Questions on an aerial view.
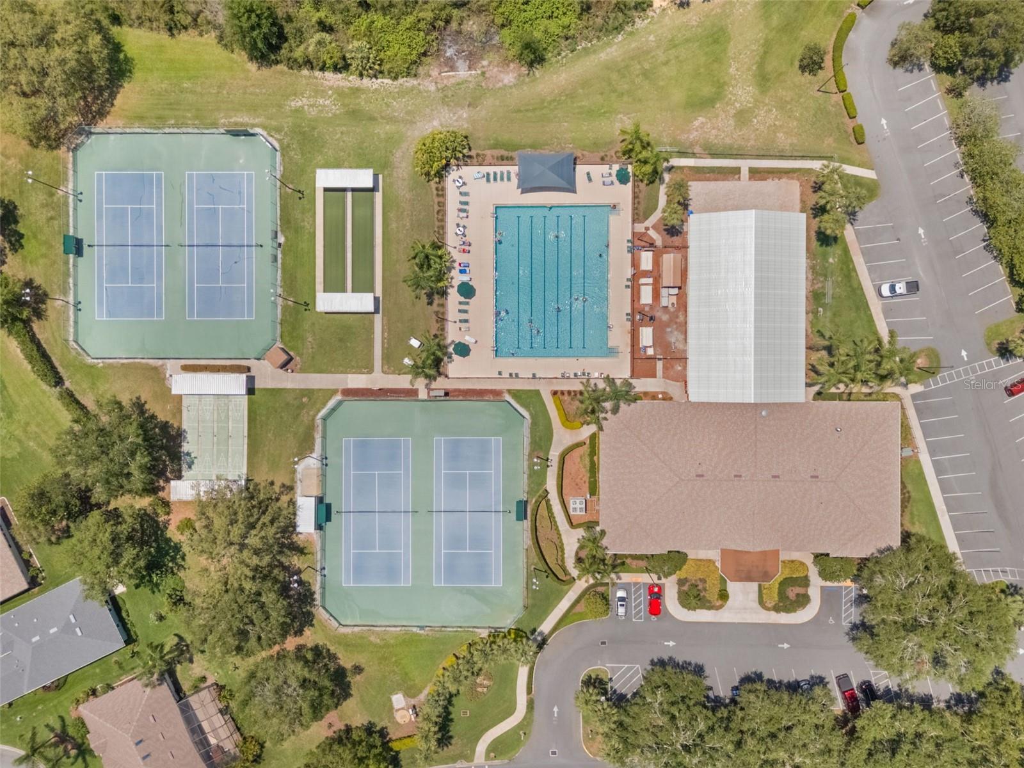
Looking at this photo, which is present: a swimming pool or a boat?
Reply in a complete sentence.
It is a swimming pool that can be seen here.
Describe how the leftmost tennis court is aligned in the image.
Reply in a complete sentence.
In this picture, the leftmost tennis court is oriented vertically.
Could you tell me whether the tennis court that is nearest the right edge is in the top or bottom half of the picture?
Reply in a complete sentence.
The tennis court that is nearest the right edge is in the bottom half of the image.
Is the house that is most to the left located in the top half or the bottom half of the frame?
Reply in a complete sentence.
You can find the house that is most to the left in the bottom half.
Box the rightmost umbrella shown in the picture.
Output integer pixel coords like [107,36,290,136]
[615,168,631,184]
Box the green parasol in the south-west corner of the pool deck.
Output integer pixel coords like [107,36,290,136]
[453,340,471,358]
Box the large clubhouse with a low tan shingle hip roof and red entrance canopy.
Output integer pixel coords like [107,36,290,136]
[599,401,901,583]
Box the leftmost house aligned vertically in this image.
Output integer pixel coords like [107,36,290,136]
[0,517,35,600]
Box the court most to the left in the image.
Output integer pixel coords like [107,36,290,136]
[78,134,175,358]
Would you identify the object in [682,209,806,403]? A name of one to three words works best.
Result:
building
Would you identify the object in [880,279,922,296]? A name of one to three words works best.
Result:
vehicle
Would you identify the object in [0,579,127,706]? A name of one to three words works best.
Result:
house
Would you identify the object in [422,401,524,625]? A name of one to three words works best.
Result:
tennis court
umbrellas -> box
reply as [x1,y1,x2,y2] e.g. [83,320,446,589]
[615,168,631,184]
[457,281,476,300]
[453,340,471,358]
